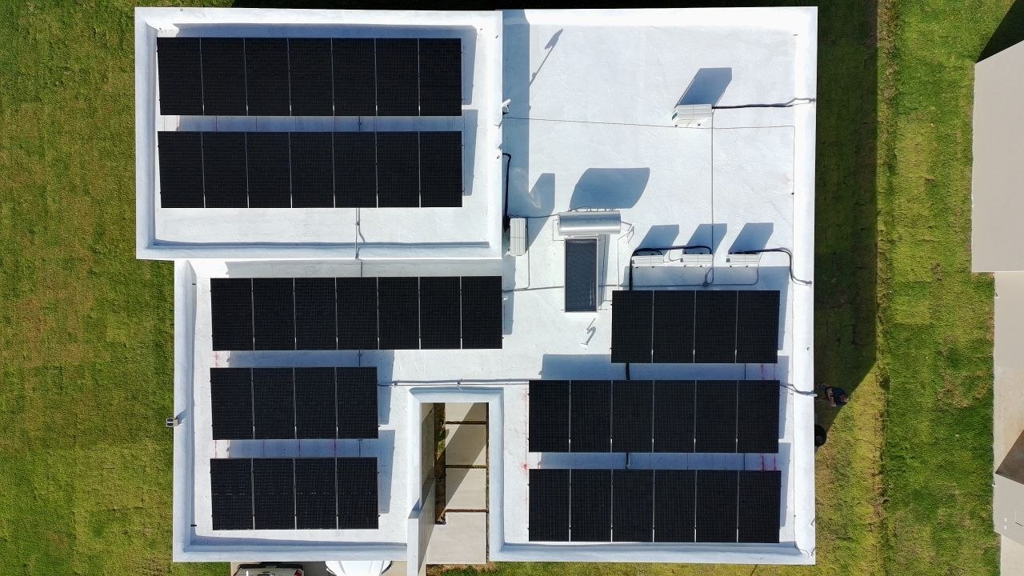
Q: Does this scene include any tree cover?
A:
No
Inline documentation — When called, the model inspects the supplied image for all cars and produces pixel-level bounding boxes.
[329,562,393,576]
[231,562,304,576]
